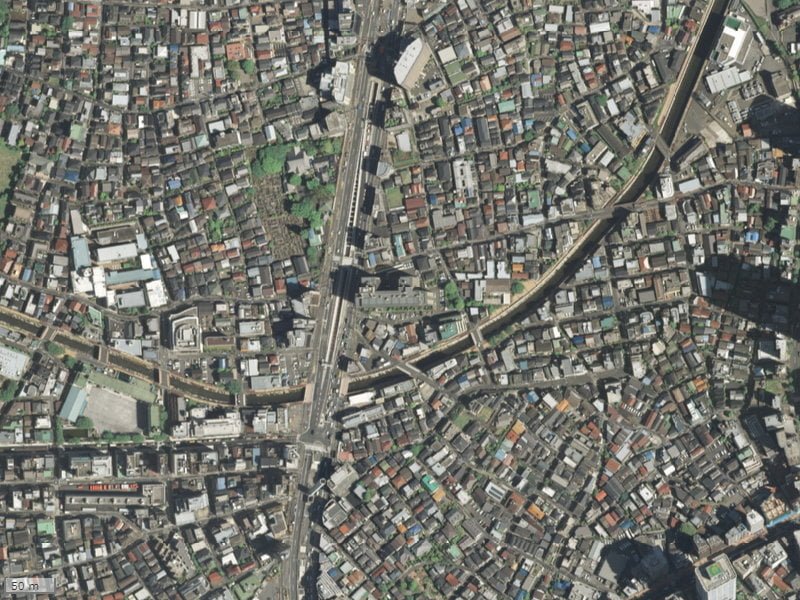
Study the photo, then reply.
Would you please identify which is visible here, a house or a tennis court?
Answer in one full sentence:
Looking from above, you can make out a house.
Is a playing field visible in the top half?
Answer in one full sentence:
No, no playing field appears in the top half.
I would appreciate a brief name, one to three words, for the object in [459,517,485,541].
building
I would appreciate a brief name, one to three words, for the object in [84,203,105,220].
house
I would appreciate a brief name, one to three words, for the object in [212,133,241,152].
house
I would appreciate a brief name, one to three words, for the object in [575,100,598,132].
building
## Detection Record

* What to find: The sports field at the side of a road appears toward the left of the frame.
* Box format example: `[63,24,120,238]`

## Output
[86,384,151,435]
